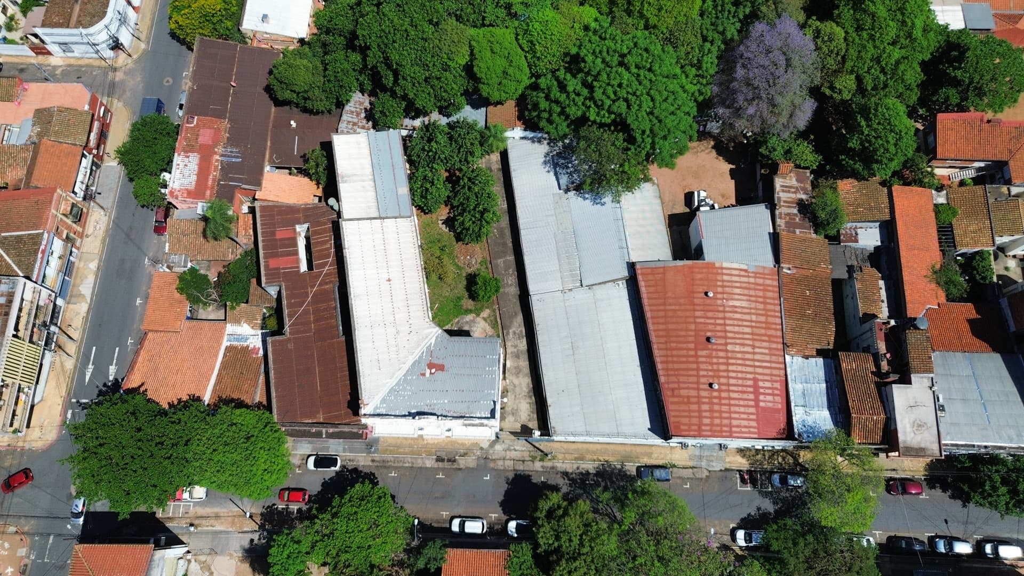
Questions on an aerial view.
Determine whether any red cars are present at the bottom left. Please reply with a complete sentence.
Yes, there is a red car at the bottom left.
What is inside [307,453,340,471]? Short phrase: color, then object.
black car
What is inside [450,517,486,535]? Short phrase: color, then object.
white car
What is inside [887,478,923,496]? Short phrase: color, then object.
red car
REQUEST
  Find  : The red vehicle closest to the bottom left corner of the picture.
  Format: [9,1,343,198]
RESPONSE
[0,466,37,495]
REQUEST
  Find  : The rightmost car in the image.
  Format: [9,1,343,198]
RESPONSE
[982,539,1024,559]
